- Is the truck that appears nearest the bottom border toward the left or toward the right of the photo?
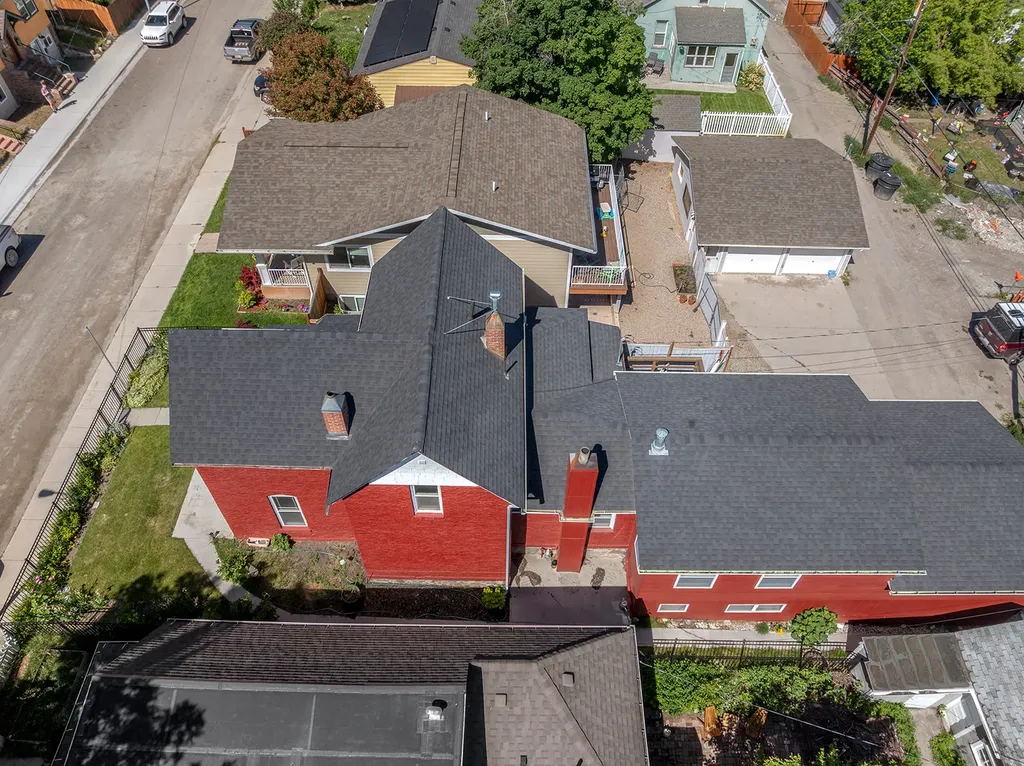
right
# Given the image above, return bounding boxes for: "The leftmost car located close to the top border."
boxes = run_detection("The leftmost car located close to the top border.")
[139,0,194,45]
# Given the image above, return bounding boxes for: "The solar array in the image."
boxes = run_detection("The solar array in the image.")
[365,0,433,64]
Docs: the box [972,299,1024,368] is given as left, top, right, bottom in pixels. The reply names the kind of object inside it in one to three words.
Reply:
truck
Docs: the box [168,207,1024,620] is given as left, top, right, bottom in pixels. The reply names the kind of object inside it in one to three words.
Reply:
house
